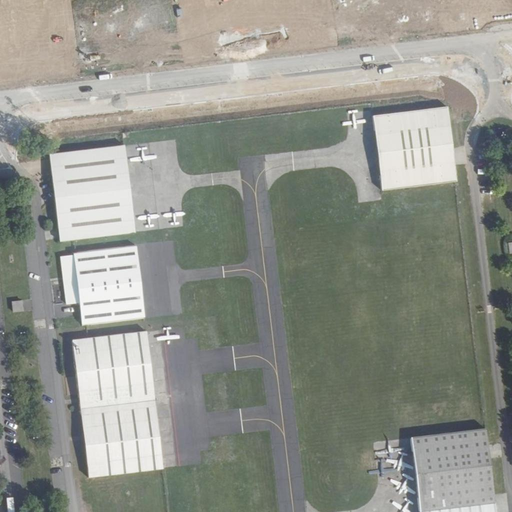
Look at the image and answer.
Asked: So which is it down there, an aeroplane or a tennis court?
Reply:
aeroplane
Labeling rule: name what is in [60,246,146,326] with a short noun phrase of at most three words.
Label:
hangar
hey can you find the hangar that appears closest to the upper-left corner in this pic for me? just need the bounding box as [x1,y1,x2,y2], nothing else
[50,145,136,242]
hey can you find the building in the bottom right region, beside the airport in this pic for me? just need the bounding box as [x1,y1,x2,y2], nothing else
[411,428,496,512]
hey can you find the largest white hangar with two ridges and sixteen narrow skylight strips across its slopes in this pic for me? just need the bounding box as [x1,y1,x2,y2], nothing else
[72,331,164,478]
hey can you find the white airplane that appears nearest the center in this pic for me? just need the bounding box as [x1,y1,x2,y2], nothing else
[162,208,186,224]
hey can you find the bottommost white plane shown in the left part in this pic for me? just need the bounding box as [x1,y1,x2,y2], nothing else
[156,326,180,344]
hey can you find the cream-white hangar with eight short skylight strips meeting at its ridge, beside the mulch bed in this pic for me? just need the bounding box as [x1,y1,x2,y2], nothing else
[372,106,458,190]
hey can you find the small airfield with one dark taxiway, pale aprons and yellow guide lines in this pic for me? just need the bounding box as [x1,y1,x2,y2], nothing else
[126,108,420,512]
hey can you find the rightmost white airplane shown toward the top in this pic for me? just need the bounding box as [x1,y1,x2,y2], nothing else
[342,110,366,129]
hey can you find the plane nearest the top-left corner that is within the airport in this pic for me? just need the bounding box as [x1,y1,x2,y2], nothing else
[130,146,157,164]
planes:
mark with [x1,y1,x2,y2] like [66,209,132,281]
[162,208,186,224]
[369,457,396,476]
[156,326,180,344]
[137,210,160,226]
[390,474,416,494]
[342,110,366,129]
[130,146,157,164]
[376,433,404,458]
[386,452,414,472]
[390,498,414,512]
